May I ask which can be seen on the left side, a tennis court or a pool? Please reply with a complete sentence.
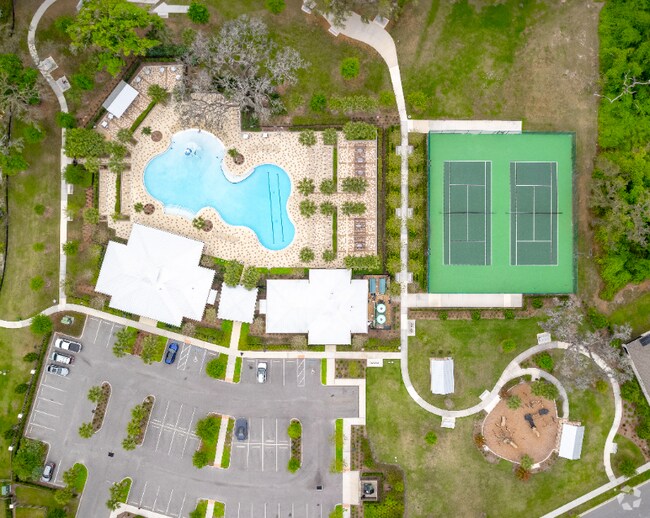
Visible on the left side is a pool.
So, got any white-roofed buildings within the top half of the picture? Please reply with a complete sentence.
Yes, within the top half of the picture there is a white-roofed building.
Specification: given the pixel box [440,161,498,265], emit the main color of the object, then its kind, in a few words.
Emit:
green tennis court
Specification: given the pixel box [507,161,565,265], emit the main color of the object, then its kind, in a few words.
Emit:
green tennis court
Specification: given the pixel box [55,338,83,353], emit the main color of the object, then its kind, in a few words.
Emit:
white vehicle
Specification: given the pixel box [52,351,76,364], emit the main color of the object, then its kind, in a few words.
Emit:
white vehicle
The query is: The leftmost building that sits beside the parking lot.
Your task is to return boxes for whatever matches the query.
[95,223,215,327]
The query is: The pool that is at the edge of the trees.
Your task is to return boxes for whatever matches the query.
[142,127,296,252]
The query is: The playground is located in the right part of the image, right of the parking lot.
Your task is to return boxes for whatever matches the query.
[482,382,559,465]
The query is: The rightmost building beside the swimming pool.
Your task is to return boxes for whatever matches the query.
[267,269,368,345]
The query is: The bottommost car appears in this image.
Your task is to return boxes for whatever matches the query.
[43,460,57,481]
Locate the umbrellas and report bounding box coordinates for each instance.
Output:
[376,315,386,324]
[376,303,386,313]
